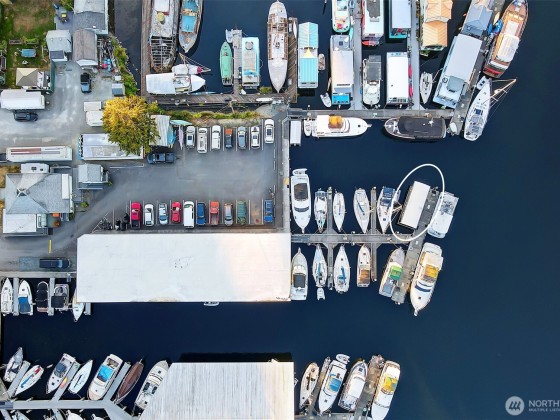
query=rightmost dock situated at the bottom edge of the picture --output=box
[355,355,382,416]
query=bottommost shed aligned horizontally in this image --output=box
[137,351,294,420]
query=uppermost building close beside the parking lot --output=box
[298,20,319,94]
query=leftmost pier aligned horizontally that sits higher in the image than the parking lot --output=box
[141,94,291,106]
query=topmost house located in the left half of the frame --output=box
[72,0,114,39]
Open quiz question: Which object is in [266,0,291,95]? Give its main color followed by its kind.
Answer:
white ship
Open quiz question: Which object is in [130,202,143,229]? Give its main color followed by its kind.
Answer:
red vehicle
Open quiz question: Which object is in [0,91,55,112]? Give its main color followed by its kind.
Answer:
white trailer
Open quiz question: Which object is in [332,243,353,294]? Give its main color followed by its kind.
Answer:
white boat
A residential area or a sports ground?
residential area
